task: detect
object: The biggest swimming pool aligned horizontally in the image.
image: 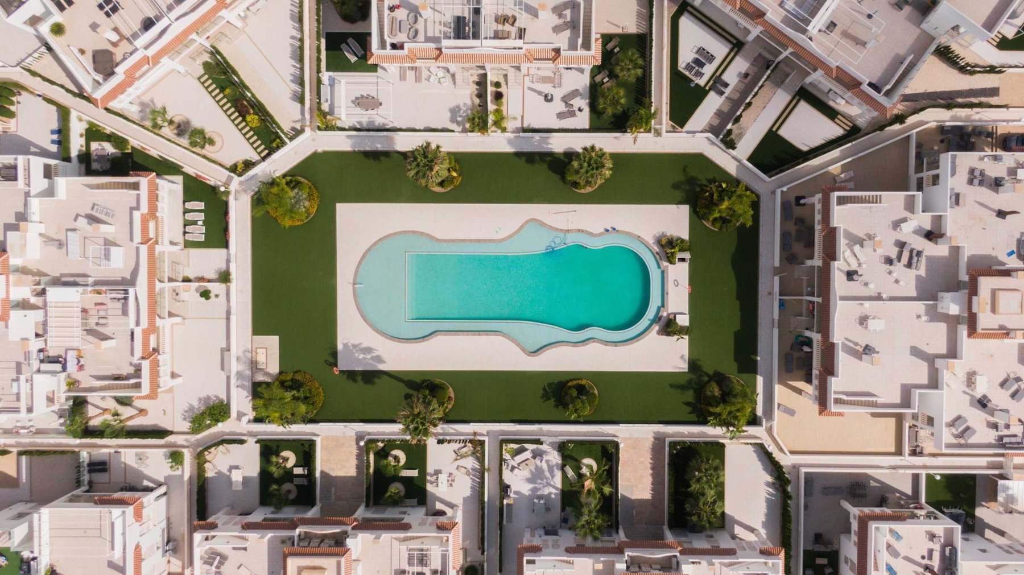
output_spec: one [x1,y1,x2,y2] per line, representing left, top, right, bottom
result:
[353,218,668,357]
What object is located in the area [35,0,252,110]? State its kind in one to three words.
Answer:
house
